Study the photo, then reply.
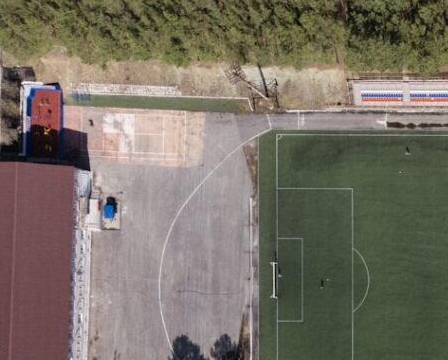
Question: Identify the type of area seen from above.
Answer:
sports ground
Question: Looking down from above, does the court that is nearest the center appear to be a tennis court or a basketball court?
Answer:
basketball court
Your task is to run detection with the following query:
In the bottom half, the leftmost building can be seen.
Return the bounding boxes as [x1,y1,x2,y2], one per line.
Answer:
[0,160,93,360]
